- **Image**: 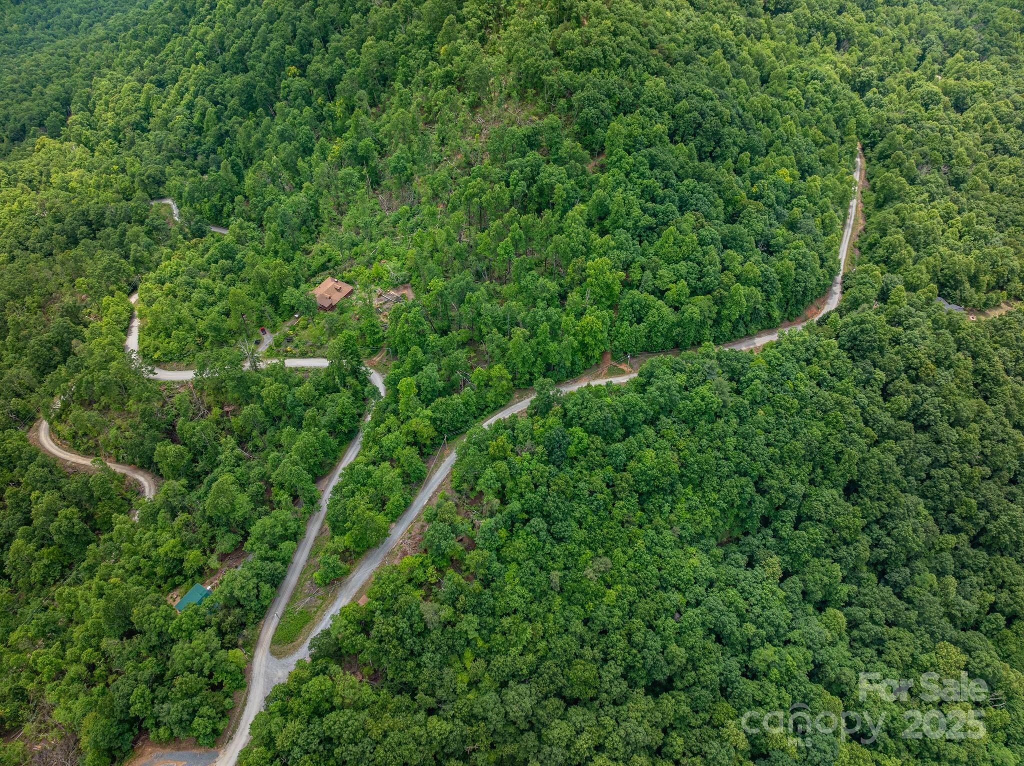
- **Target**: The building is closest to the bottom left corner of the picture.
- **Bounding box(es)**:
[172,583,219,618]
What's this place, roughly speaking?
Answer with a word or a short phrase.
forest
